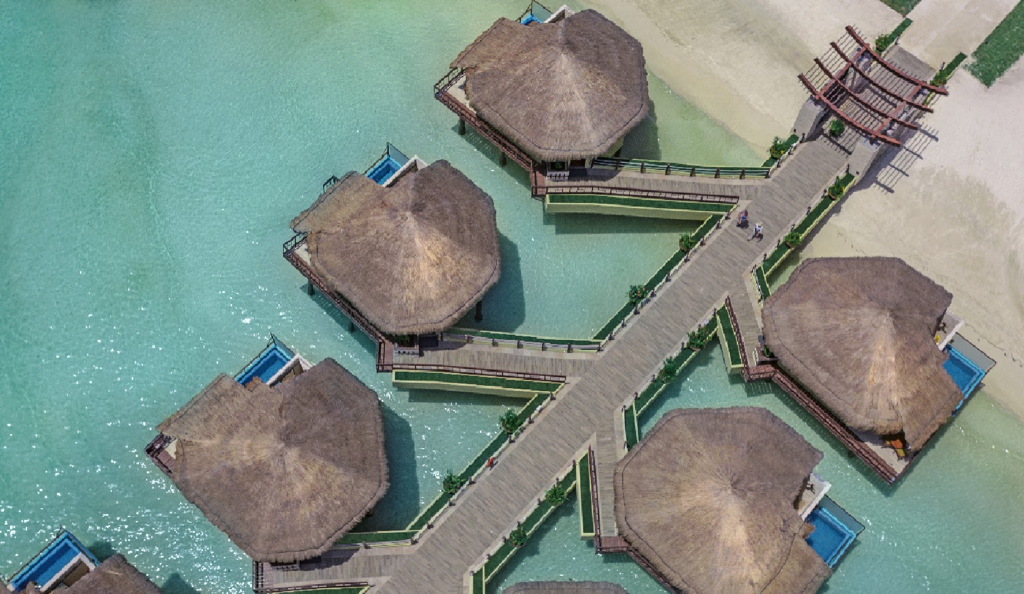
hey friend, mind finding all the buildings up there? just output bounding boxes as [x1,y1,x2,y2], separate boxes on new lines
[433,0,646,198]
[0,527,161,594]
[600,407,865,594]
[143,337,389,594]
[275,144,502,372]
[495,578,627,594]
[744,253,997,493]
